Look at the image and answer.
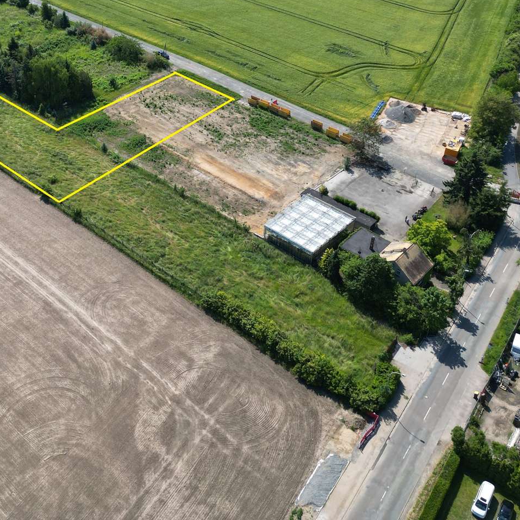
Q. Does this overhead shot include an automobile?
Yes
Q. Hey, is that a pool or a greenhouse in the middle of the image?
greenhouse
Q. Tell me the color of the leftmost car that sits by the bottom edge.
white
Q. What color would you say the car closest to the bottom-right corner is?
black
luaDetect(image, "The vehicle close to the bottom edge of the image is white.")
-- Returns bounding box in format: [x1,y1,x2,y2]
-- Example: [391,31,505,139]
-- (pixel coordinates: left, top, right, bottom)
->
[471,483,494,517]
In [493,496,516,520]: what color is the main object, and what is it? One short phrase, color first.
black car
